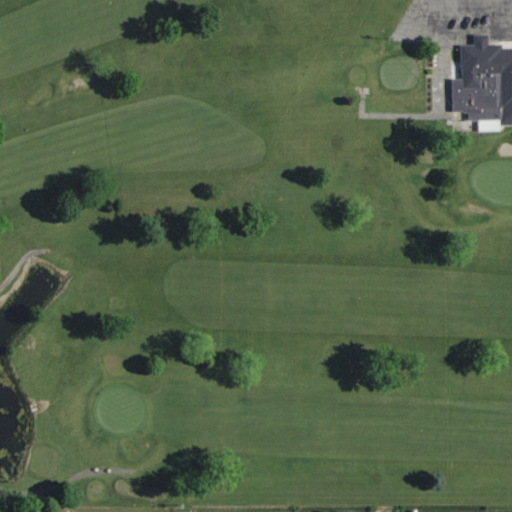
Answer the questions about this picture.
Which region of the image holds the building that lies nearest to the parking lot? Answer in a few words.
top right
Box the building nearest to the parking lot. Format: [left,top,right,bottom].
[453,35,512,132]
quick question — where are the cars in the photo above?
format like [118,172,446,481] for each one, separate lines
[451,18,456,28]
[474,18,479,27]
[464,17,470,28]
[482,15,488,24]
